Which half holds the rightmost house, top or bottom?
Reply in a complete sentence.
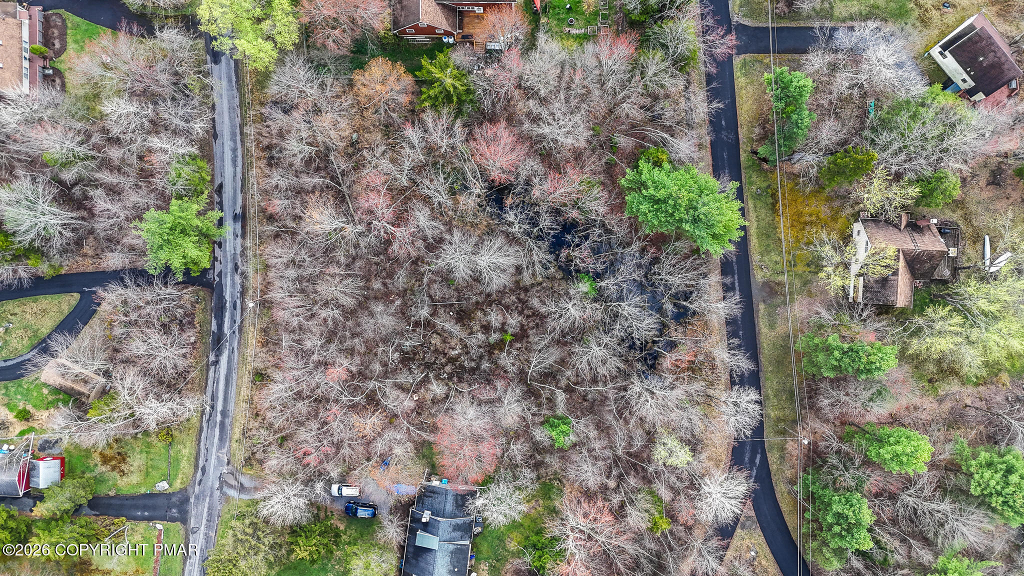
The rightmost house is in the top half of the image.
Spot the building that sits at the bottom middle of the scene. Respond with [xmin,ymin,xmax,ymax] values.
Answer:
[401,471,486,576]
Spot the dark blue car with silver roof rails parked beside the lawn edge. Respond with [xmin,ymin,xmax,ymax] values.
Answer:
[345,500,378,516]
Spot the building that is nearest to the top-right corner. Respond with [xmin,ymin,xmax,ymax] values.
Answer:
[930,12,1024,108]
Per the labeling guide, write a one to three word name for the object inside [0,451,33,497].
house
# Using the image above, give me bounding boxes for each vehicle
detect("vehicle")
[331,482,360,497]
[345,500,378,516]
